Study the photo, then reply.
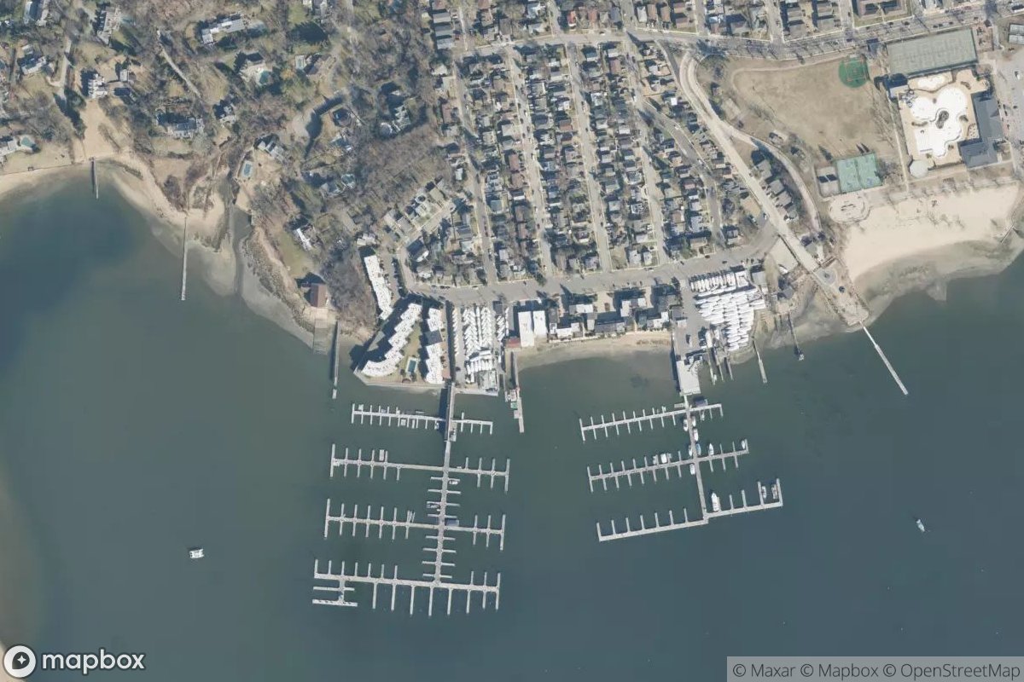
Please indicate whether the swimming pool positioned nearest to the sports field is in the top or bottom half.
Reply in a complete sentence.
The swimming pool positioned nearest to the sports field sits in the top half of the picture.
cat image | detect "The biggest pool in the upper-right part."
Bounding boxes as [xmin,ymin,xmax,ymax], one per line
[897,69,989,170]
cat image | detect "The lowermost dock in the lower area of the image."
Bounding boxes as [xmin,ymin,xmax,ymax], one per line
[313,559,500,616]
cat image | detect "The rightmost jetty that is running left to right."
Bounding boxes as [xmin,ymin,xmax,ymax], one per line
[706,478,783,517]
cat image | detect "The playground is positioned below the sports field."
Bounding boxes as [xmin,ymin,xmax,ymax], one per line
[827,192,869,223]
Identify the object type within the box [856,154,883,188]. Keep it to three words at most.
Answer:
tennis court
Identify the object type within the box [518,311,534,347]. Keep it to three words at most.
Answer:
building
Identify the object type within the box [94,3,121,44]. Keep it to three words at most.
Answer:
house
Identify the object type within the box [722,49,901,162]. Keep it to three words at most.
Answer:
sports field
